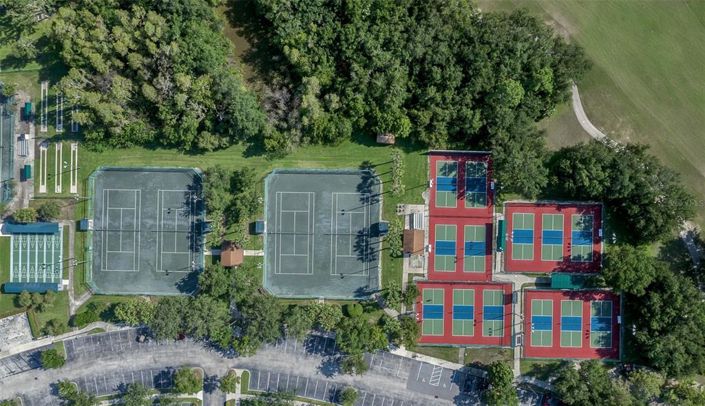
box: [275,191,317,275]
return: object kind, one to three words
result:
tennis court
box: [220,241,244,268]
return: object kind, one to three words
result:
building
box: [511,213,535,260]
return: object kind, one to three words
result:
sports court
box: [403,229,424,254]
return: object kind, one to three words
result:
building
